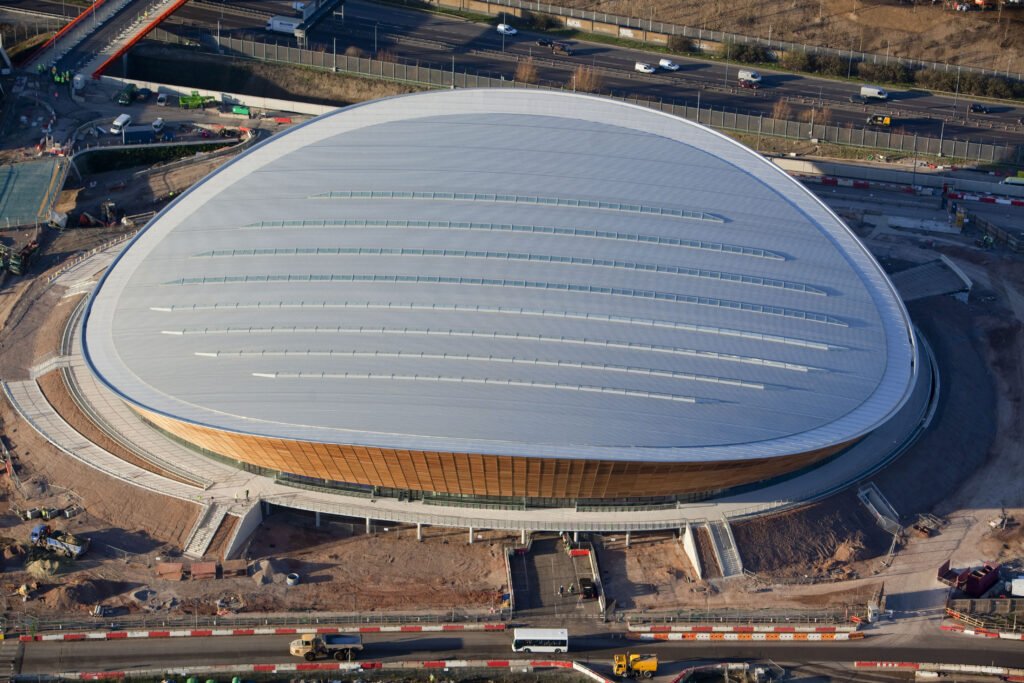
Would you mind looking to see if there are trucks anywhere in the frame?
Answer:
Yes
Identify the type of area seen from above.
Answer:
sports ground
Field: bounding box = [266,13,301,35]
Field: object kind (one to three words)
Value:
truck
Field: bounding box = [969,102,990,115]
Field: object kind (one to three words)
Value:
vehicle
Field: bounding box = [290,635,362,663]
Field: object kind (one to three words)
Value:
truck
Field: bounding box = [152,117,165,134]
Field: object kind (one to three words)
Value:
vehicle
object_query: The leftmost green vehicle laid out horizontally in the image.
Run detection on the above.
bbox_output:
[176,95,211,112]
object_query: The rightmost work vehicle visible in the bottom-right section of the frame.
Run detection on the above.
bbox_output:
[992,512,1019,531]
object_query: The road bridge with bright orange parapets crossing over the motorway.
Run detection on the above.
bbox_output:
[14,0,195,86]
